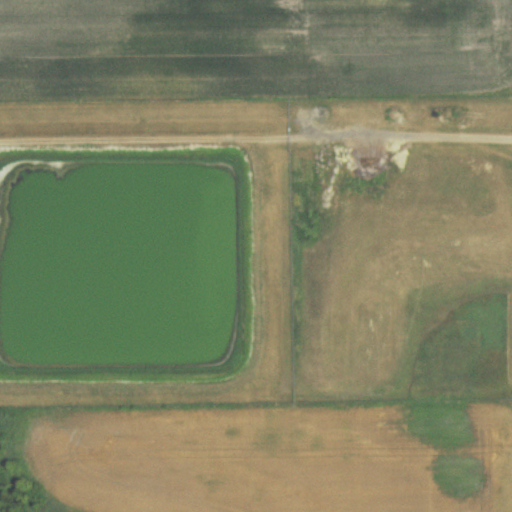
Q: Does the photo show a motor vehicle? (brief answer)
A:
No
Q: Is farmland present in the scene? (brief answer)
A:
Yes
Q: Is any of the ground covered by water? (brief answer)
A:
Yes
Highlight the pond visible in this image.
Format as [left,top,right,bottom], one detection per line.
[0,162,238,367]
